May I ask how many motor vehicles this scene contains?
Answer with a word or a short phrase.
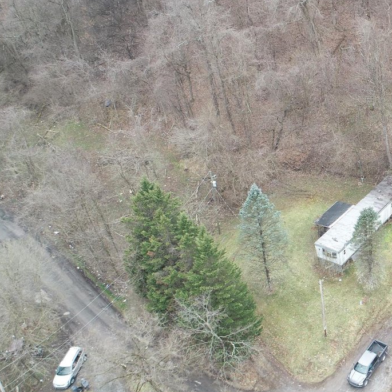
two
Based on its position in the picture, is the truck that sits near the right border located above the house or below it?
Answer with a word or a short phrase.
below it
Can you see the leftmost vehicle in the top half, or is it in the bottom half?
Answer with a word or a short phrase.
bottom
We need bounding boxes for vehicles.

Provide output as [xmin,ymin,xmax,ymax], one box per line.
[51,346,89,389]
[347,339,390,389]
